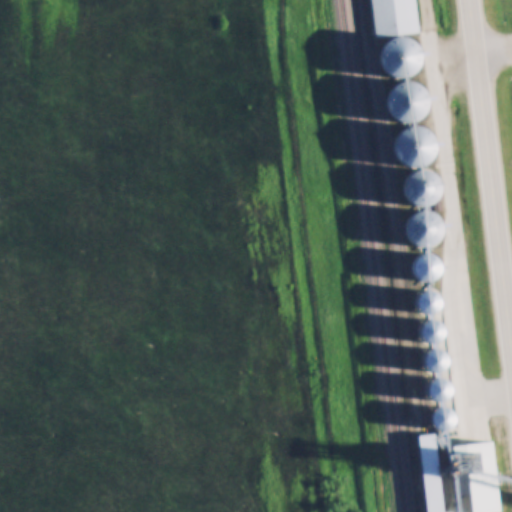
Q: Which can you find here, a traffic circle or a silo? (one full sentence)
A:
This aerial view contains a silo.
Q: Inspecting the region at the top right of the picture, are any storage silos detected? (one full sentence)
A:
Yes, a storage silo is visible at the top right of the picture.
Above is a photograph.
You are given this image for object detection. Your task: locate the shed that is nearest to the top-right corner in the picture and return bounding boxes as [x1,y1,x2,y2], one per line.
[372,0,418,37]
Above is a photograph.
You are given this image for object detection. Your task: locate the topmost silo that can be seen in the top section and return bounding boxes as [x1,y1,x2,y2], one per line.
[380,37,424,81]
